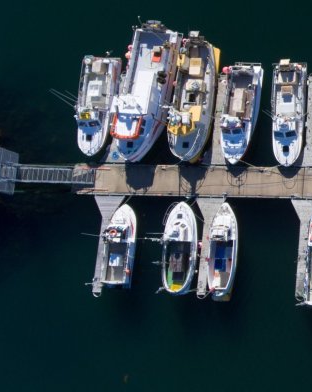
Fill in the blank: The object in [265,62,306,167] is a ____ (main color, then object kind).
white boat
